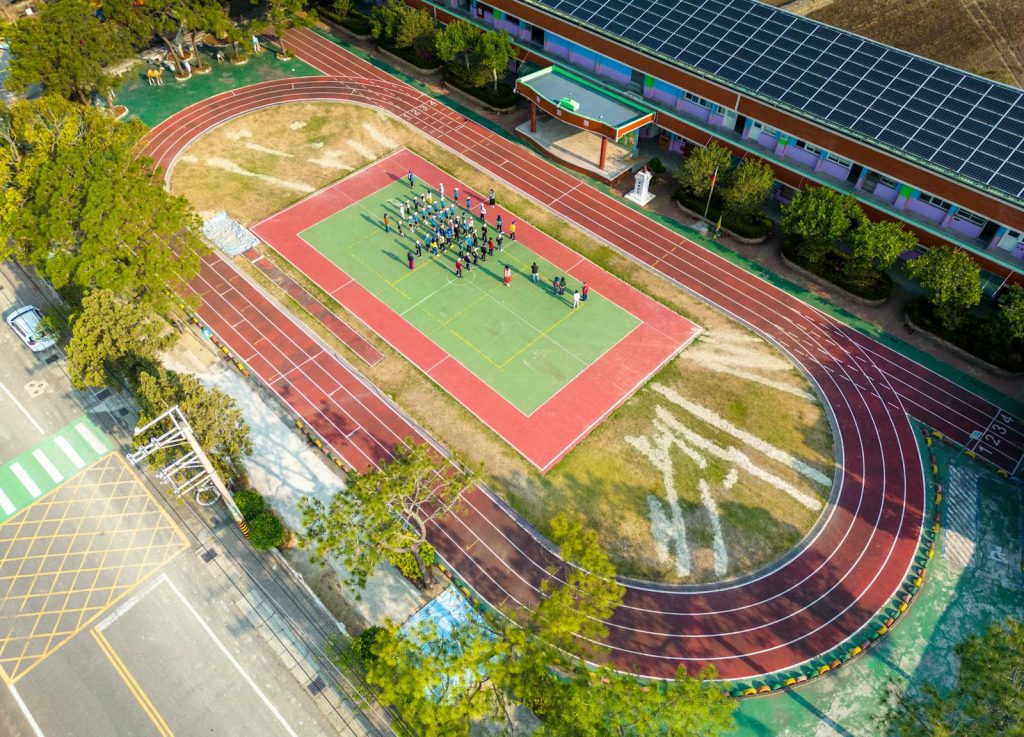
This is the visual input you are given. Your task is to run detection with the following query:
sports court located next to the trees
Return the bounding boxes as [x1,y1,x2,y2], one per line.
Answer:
[249,147,705,473]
